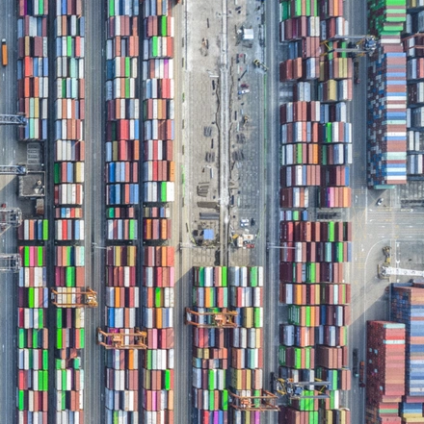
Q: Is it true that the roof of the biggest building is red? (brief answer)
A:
No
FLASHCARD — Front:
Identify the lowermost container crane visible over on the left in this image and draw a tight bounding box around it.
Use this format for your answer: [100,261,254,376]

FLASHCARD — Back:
[94,326,148,350]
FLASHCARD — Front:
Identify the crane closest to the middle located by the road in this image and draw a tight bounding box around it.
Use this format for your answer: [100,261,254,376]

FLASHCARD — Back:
[181,306,239,329]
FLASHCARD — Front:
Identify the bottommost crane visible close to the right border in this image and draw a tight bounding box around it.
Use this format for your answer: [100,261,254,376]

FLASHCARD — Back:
[378,263,424,281]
